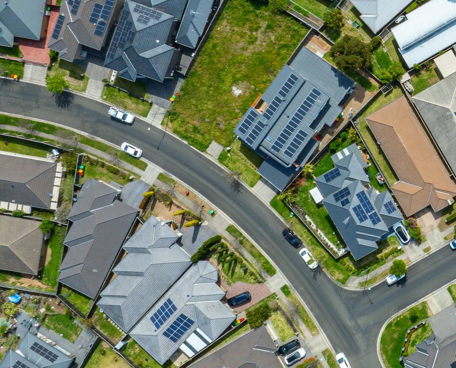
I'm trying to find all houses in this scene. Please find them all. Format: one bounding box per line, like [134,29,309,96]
[130,259,237,364]
[232,46,357,192]
[315,144,403,261]
[412,49,456,173]
[191,326,288,368]
[0,328,81,368]
[405,332,456,368]
[96,213,189,333]
[50,0,120,63]
[103,0,189,83]
[366,95,456,217]
[0,215,46,275]
[391,0,456,62]
[0,0,47,47]
[347,0,408,29]
[57,178,141,300]
[0,153,63,214]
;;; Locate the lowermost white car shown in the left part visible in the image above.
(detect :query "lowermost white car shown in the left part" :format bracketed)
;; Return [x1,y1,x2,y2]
[120,143,144,157]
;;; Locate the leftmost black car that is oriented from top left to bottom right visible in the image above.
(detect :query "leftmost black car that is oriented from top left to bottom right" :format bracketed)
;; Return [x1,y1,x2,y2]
[283,227,302,248]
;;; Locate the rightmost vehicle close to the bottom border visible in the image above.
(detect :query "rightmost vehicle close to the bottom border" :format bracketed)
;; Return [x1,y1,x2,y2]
[337,354,351,368]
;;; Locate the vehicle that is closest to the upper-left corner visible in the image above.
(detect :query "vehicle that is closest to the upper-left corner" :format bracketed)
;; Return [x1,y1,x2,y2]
[108,107,134,123]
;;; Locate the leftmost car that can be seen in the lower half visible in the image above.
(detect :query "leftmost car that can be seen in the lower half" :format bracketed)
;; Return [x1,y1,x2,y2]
[228,291,250,306]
